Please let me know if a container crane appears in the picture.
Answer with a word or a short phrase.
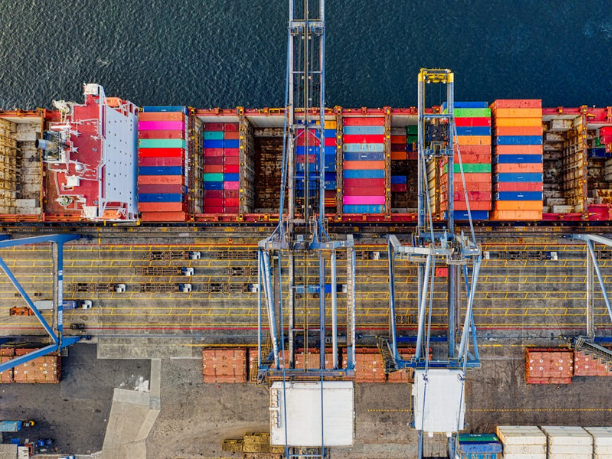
Yes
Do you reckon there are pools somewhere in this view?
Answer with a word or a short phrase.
No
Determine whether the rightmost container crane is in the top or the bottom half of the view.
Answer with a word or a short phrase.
bottom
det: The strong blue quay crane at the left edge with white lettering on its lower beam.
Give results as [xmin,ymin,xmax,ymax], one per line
[0,231,100,377]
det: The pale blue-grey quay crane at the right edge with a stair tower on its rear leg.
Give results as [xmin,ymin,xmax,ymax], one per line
[551,232,612,369]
